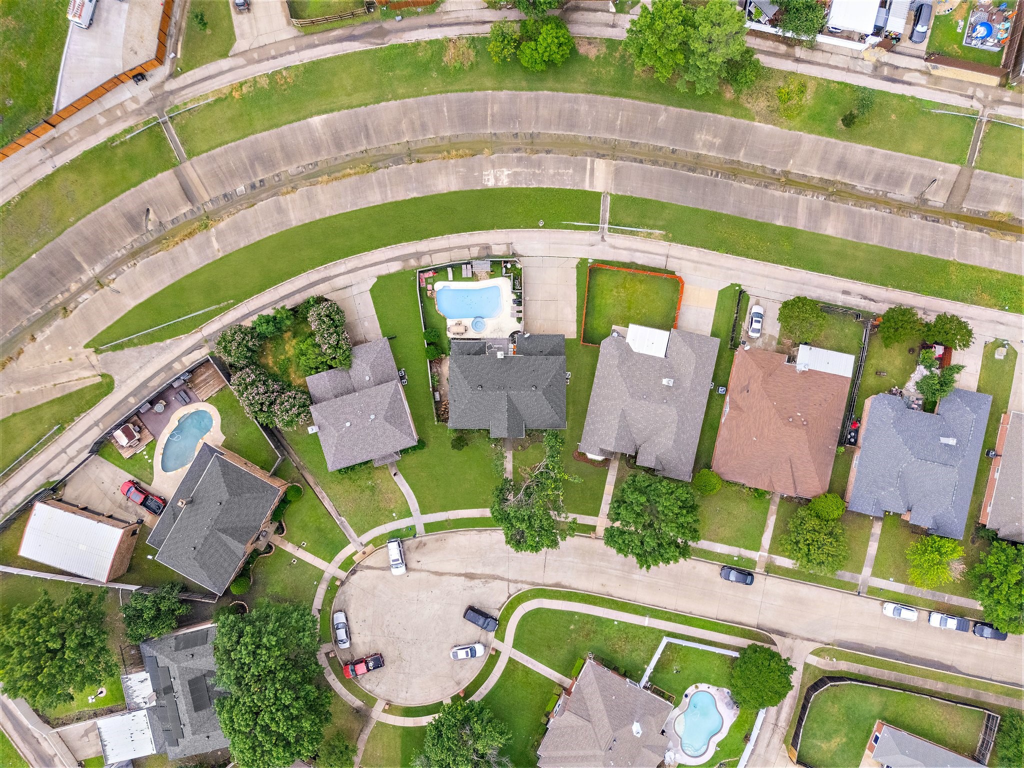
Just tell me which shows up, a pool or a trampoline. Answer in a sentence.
I can see a pool in this picture.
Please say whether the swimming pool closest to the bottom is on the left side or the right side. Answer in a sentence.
You can find the swimming pool closest to the bottom on the right side of the picture.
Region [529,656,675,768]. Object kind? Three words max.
house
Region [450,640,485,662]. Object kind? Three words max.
car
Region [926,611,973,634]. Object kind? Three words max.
truck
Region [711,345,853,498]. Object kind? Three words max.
house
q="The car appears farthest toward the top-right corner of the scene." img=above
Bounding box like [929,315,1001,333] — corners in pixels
[910,1,937,44]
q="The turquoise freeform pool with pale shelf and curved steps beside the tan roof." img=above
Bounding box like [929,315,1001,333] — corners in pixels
[667,683,740,766]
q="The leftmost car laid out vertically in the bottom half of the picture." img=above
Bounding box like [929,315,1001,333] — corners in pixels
[334,611,353,649]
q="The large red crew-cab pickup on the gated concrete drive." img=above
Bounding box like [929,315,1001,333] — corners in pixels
[119,479,167,519]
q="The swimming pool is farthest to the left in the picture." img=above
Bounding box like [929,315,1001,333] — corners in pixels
[151,402,225,504]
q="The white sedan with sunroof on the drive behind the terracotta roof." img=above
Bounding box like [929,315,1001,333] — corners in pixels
[747,305,765,338]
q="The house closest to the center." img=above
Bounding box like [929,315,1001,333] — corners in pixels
[448,332,567,439]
